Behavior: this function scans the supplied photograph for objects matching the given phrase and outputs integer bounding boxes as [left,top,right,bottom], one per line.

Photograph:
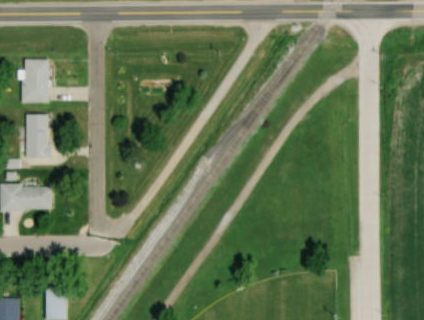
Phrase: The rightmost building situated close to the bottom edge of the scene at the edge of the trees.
[44,288,68,320]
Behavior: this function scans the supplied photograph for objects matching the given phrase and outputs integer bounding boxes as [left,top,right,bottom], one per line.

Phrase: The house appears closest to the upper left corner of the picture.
[17,58,49,102]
